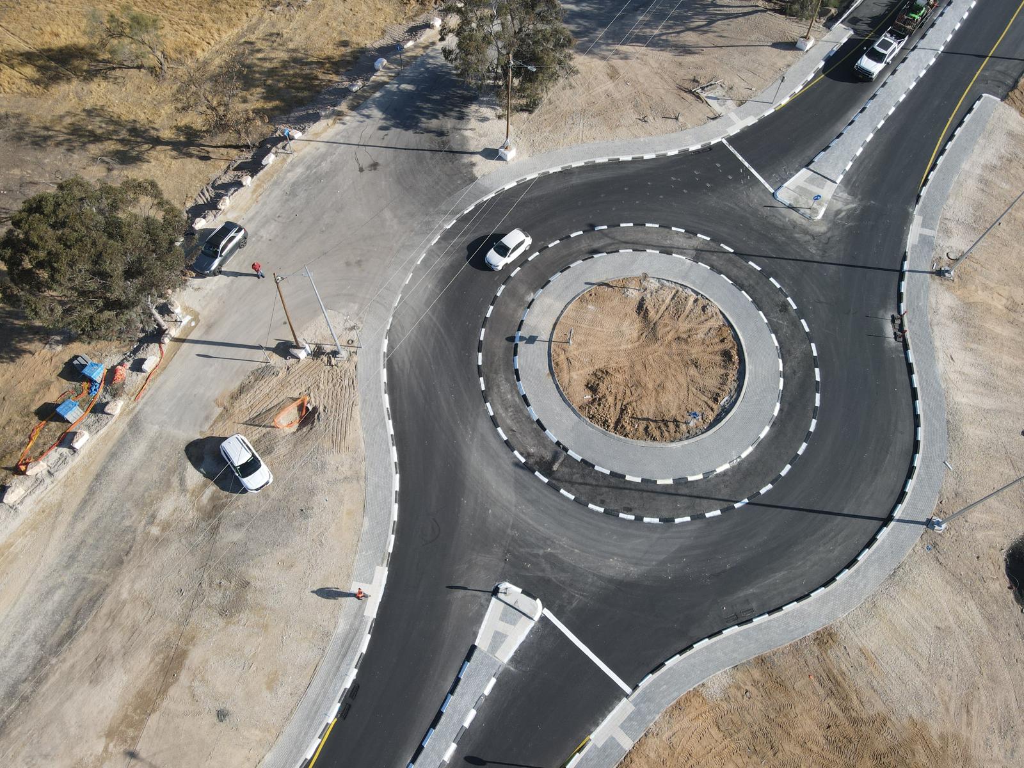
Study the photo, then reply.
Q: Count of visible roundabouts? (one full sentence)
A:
The count comes to 1 roundabout.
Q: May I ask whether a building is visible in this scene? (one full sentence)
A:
No, the picture doesn't show any building.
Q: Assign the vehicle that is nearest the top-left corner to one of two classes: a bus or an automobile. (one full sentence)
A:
In the photo, the vehicle that is nearest the top-left corner shows up as an automobile.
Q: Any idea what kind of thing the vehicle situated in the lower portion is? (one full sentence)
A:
The vehicle situated in the lower portion is a car.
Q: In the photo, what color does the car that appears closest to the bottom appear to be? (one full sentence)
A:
From above, the car that appears closest to the bottom appears white.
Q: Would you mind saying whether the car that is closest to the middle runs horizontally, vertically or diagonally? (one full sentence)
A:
In this picture, the car that is closest to the middle is oriented diagonally.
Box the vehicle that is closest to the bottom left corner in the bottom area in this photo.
[218,432,277,494]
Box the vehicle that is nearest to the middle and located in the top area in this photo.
[483,225,533,270]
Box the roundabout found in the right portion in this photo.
[478,223,821,522]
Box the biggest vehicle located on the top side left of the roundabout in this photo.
[188,220,246,278]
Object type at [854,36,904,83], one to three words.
truck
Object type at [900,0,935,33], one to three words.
work vehicle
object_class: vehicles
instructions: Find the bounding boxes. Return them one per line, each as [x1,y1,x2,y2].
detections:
[218,432,277,494]
[188,220,246,278]
[483,225,533,270]
[900,0,935,33]
[854,36,904,83]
